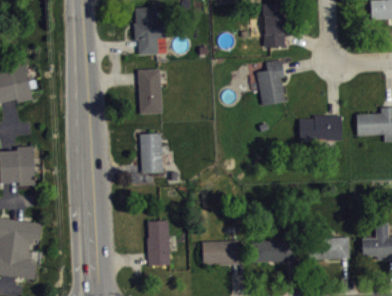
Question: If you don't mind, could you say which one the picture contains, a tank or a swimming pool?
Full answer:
Of the two, only a swimming pool appears.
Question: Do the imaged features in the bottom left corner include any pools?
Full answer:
No, looking in the bottom left corner, there is no pool.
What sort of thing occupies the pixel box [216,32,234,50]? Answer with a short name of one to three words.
swimming pool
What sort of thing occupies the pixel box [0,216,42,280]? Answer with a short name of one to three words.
house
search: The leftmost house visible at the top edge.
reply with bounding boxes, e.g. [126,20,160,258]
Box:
[134,8,166,54]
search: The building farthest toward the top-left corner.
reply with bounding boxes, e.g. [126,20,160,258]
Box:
[0,64,34,106]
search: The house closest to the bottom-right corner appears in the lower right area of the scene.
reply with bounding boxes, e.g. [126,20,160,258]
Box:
[362,222,392,261]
